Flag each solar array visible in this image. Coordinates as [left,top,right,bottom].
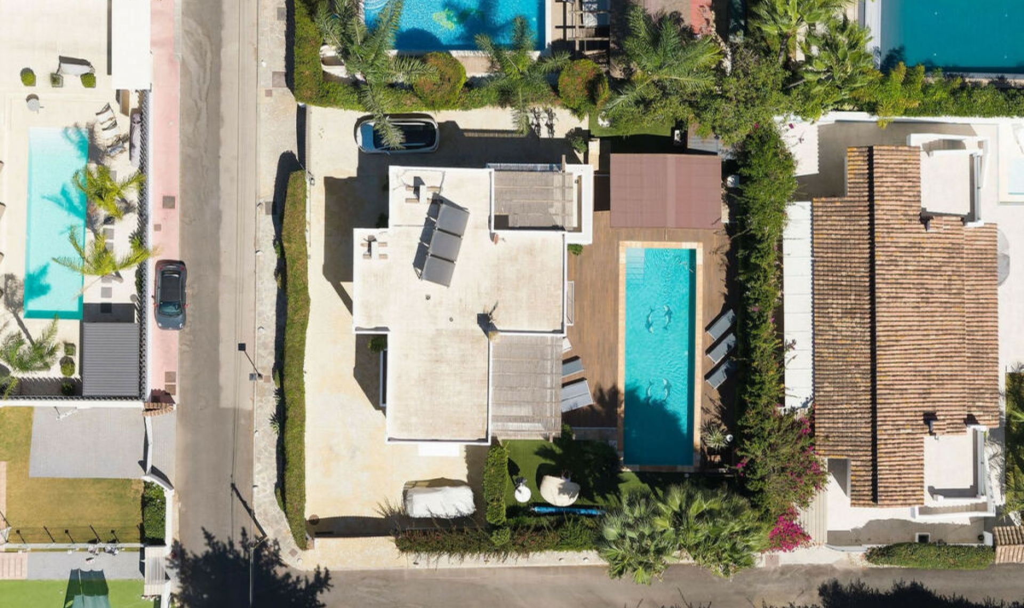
[420,204,470,287]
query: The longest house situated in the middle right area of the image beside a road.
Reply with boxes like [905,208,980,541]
[809,133,1000,522]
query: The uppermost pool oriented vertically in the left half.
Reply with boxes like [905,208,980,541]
[21,127,89,321]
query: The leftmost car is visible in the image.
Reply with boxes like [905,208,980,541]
[150,261,186,330]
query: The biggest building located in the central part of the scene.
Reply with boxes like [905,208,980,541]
[353,164,593,457]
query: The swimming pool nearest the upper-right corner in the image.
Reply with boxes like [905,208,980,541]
[875,0,1024,76]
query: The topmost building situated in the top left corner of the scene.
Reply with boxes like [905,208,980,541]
[111,0,158,91]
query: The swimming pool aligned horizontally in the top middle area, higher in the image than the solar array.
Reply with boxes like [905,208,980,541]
[360,0,549,54]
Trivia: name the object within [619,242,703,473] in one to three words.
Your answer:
swimming pool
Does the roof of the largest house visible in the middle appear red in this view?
No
